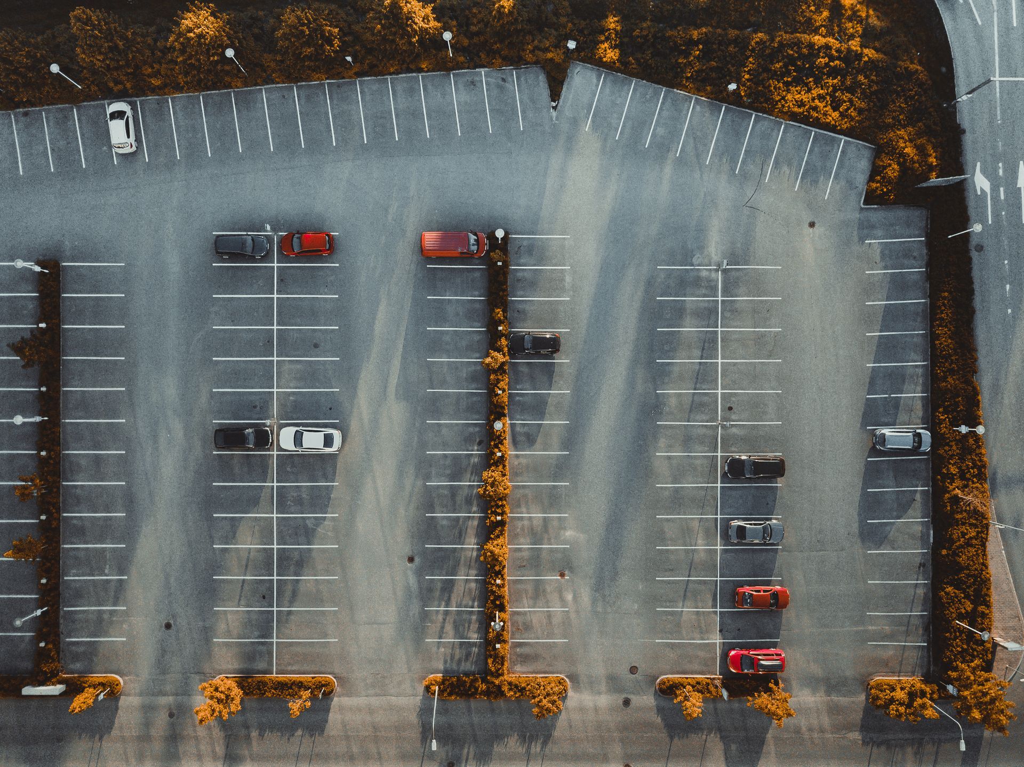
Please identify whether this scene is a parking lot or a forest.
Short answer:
parking lot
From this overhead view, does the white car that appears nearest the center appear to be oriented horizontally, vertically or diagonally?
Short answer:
horizontally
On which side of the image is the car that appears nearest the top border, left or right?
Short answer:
left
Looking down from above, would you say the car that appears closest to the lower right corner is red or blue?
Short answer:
red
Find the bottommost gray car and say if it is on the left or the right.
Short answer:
right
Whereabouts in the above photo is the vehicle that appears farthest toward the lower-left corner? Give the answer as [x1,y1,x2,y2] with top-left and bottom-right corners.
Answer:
[214,425,273,452]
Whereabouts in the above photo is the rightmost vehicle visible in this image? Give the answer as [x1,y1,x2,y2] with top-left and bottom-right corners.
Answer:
[871,427,930,455]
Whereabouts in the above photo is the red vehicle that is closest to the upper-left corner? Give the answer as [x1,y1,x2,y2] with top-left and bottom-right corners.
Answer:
[282,229,335,257]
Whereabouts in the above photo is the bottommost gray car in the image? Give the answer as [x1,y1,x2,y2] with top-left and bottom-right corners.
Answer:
[728,520,784,546]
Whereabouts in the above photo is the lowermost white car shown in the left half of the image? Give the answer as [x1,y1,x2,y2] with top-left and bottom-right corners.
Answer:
[280,426,342,454]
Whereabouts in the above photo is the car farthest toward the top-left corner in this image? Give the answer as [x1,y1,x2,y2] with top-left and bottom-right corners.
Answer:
[106,103,140,156]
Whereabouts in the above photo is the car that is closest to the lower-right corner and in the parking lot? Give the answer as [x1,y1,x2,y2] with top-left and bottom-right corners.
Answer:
[734,585,789,612]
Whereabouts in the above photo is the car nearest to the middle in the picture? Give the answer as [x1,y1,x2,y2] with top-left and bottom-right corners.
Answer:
[509,330,561,357]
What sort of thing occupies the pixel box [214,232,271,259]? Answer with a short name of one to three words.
car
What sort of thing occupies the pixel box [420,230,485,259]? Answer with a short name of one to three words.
van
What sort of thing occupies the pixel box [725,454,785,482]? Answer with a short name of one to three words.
car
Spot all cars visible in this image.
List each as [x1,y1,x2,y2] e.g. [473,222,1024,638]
[280,426,342,454]
[728,520,784,546]
[871,427,930,455]
[734,585,789,612]
[214,232,271,259]
[282,229,335,257]
[509,330,561,357]
[106,103,140,156]
[214,425,273,452]
[725,454,785,482]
